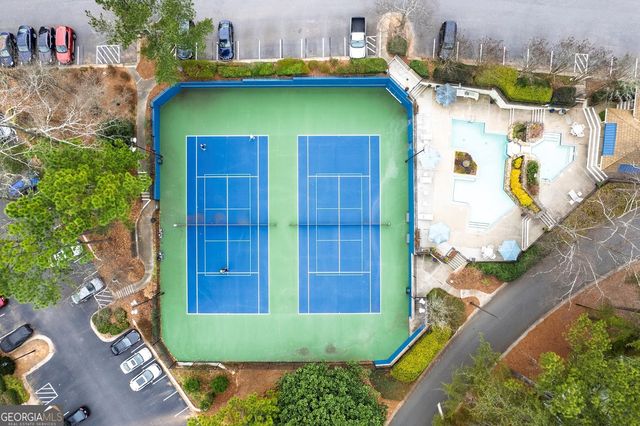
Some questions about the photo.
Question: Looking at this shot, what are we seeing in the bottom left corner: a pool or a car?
car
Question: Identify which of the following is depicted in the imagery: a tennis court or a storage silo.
tennis court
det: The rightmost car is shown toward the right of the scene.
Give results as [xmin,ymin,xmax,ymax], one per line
[437,21,456,61]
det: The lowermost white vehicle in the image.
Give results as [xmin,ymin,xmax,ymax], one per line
[128,362,166,394]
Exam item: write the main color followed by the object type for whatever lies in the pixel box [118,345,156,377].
white car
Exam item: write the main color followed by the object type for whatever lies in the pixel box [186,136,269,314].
blue tennis court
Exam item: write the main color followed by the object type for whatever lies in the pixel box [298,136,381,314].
blue tennis court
